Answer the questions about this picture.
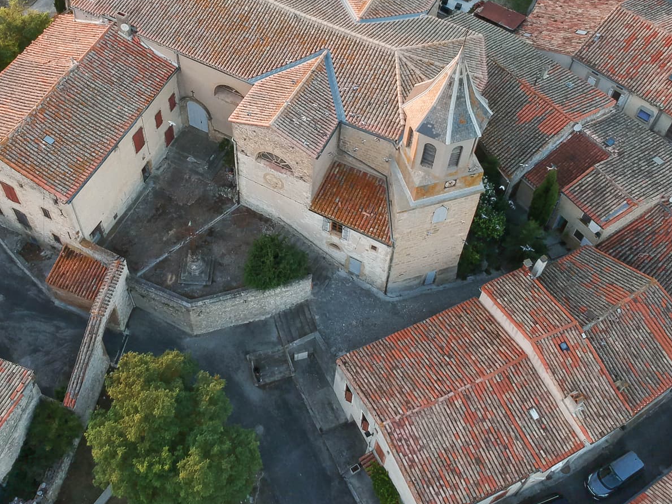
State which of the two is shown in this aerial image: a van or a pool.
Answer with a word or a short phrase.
van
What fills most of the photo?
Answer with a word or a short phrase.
buildings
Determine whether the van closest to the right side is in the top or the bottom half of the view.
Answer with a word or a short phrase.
bottom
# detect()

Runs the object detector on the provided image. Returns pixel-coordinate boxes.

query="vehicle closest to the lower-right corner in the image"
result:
[586,444,655,499]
